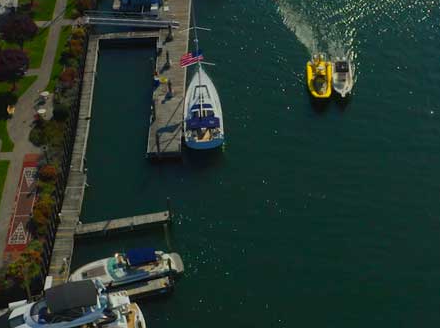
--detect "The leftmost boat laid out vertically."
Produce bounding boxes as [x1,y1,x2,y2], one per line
[176,0,225,152]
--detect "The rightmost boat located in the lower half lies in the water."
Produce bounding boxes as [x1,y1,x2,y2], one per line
[76,240,186,288]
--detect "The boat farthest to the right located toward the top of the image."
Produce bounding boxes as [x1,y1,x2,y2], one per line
[331,55,356,98]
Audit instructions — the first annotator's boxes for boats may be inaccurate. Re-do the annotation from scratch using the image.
[305,46,332,100]
[176,0,225,152]
[76,240,186,288]
[331,55,356,98]
[0,273,147,328]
